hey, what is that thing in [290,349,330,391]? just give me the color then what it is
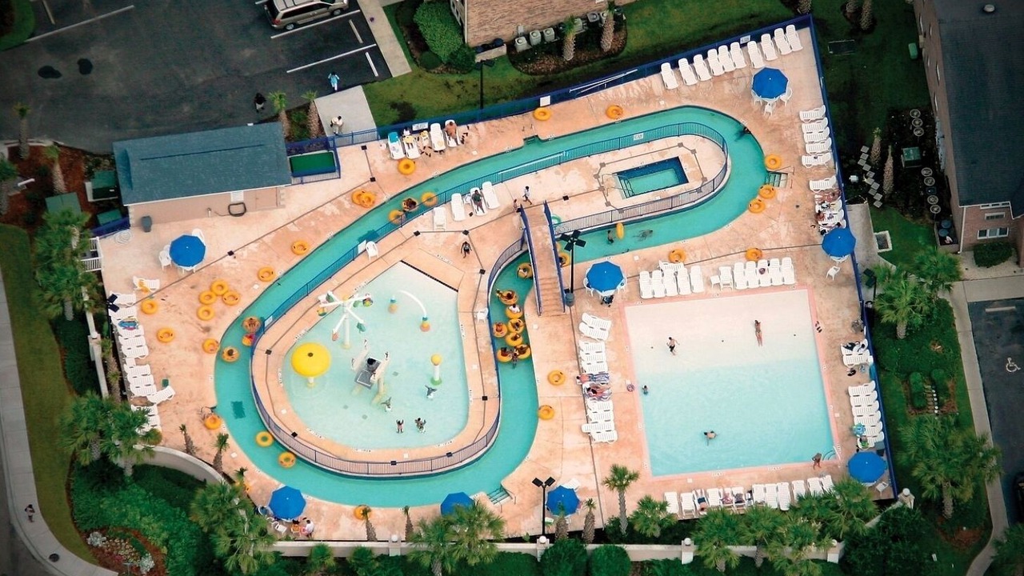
yellow fountain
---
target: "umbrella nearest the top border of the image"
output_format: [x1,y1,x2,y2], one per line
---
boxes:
[751,70,786,99]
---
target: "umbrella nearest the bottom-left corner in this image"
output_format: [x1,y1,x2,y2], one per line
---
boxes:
[269,487,307,519]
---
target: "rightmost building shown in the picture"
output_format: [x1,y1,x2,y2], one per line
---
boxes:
[916,0,1024,263]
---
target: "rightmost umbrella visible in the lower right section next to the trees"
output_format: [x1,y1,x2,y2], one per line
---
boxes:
[848,453,885,491]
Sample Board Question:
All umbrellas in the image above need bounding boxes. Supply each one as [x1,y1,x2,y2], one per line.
[545,485,583,519]
[438,489,477,520]
[170,236,208,266]
[848,453,885,491]
[269,487,307,519]
[819,228,858,260]
[585,262,622,292]
[751,70,786,99]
